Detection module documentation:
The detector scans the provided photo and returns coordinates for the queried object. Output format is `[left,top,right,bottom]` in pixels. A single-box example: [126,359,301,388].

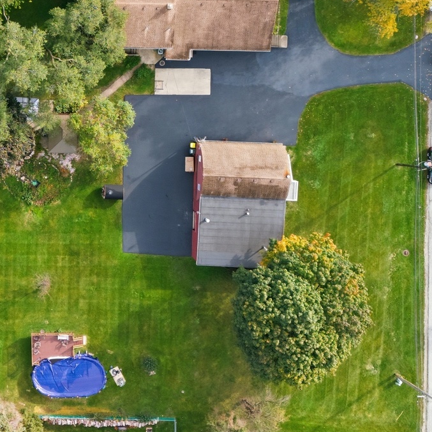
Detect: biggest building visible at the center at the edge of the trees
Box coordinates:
[193,138,300,267]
